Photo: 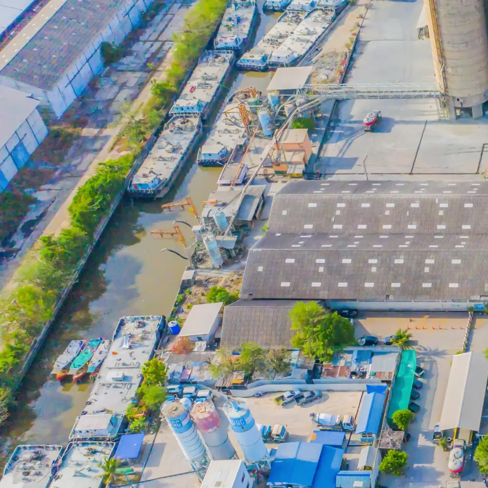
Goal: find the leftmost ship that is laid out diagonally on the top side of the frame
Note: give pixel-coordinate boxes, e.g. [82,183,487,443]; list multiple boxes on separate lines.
[126,115,202,200]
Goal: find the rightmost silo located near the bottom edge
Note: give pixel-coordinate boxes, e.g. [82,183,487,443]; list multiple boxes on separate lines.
[222,388,277,482]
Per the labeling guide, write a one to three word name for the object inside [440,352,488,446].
shed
